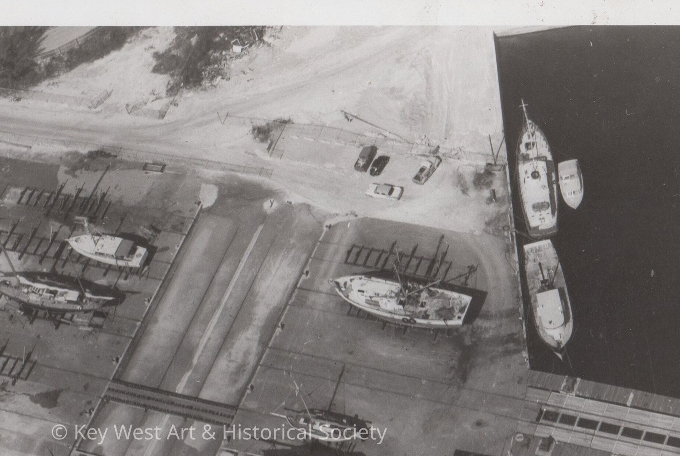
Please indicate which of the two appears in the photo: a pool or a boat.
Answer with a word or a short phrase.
boat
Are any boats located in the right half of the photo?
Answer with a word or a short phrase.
Yes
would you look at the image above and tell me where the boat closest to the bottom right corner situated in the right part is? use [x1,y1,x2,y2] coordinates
[517,238,576,358]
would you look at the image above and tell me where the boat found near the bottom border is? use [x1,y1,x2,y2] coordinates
[270,377,371,440]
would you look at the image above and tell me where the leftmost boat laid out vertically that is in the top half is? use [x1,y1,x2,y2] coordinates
[513,97,562,242]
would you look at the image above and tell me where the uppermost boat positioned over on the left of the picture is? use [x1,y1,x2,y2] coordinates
[65,216,150,270]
